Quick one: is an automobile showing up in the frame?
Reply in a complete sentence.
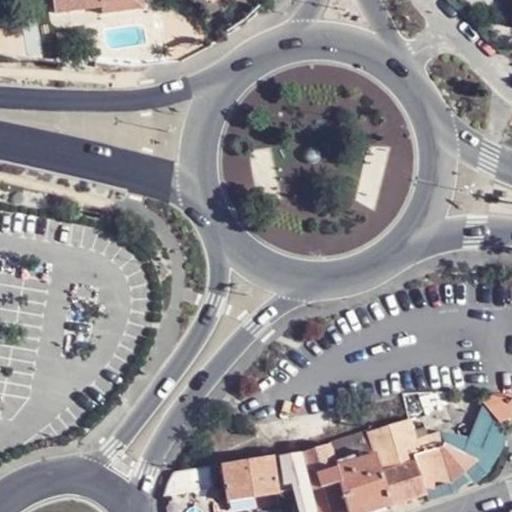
Yes, the frame does contain an automobile.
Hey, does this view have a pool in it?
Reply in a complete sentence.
Yes, there's a pool down there.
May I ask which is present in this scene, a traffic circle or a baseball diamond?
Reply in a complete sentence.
Visible in the photo is a traffic circle.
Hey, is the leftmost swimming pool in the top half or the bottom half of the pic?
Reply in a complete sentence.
The leftmost swimming pool is in the top half of the image.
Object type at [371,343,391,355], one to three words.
vehicle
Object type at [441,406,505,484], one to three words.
building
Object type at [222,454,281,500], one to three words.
house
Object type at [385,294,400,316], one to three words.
vehicle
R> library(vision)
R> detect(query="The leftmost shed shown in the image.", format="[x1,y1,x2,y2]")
[24,22,42,58]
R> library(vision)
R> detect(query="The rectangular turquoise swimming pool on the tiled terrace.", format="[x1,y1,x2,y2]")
[104,24,148,50]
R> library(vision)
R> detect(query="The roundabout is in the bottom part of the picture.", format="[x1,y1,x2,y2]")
[0,456,132,512]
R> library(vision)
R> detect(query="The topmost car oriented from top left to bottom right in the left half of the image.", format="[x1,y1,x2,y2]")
[187,206,208,225]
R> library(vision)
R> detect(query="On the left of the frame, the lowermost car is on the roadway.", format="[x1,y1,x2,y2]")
[142,474,156,494]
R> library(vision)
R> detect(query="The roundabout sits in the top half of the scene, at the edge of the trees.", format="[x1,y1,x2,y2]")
[176,18,459,301]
